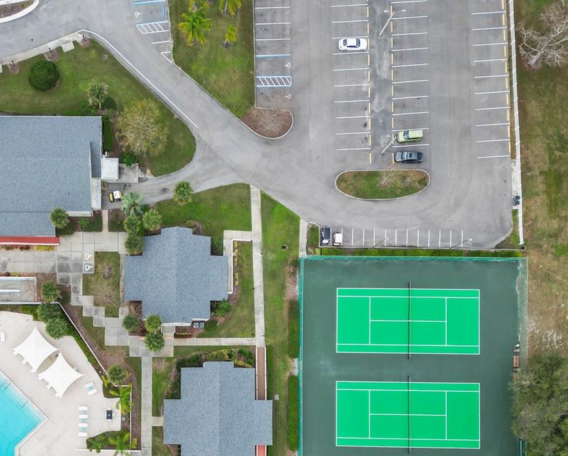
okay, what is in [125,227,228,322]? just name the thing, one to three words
house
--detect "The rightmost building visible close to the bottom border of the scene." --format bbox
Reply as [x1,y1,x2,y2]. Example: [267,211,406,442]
[164,362,273,456]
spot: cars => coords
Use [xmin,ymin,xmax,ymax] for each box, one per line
[339,34,368,49]
[398,128,424,142]
[396,149,424,163]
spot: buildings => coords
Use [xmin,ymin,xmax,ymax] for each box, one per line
[164,362,273,456]
[125,227,228,322]
[0,115,118,246]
